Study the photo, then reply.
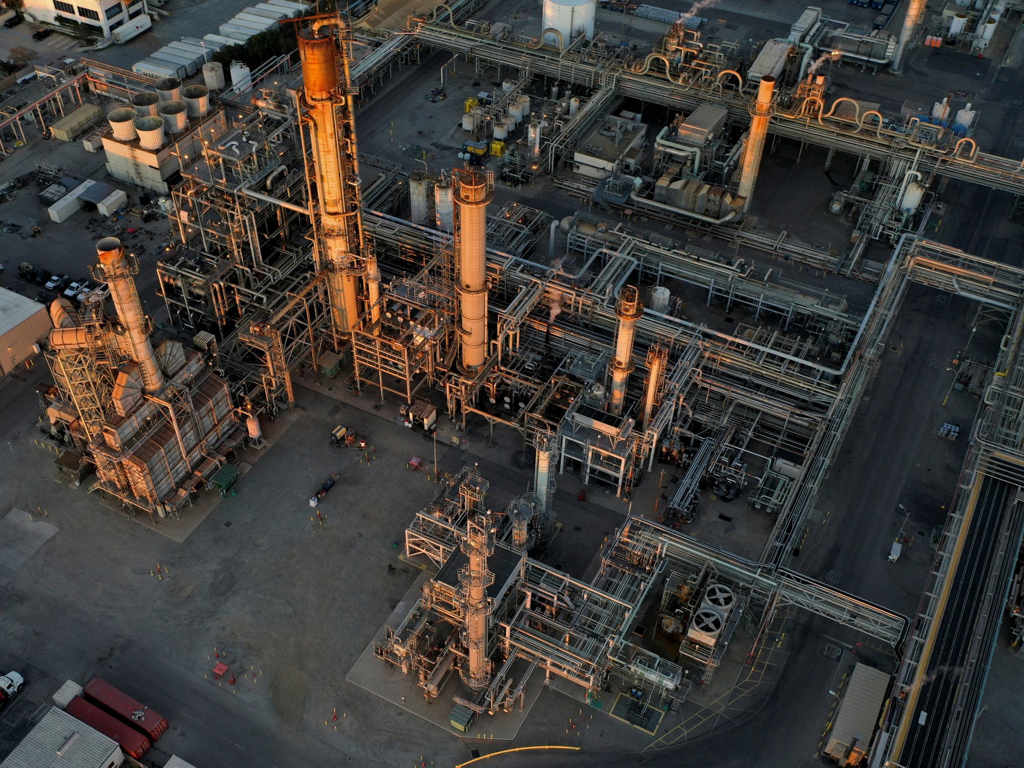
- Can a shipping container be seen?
Yes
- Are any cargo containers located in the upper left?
Yes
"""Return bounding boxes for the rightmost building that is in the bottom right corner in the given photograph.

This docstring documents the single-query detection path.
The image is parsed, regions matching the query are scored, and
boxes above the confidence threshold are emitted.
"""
[818,659,890,768]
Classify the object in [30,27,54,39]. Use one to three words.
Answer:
vehicle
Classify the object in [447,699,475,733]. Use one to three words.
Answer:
shed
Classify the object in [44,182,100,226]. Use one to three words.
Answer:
shipping container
